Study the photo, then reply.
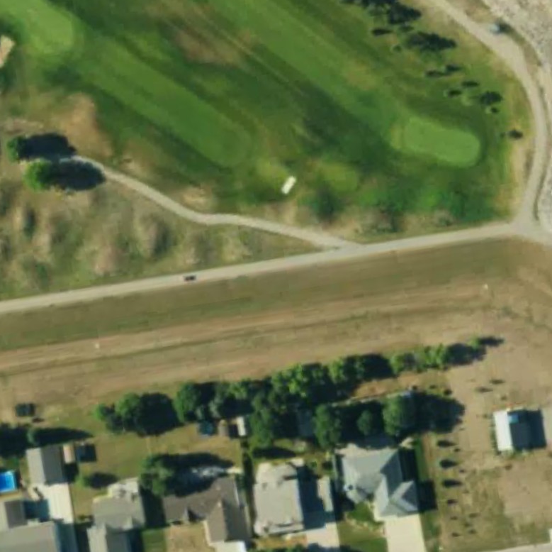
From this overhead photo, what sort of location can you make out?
golf course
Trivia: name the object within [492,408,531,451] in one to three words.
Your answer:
shed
